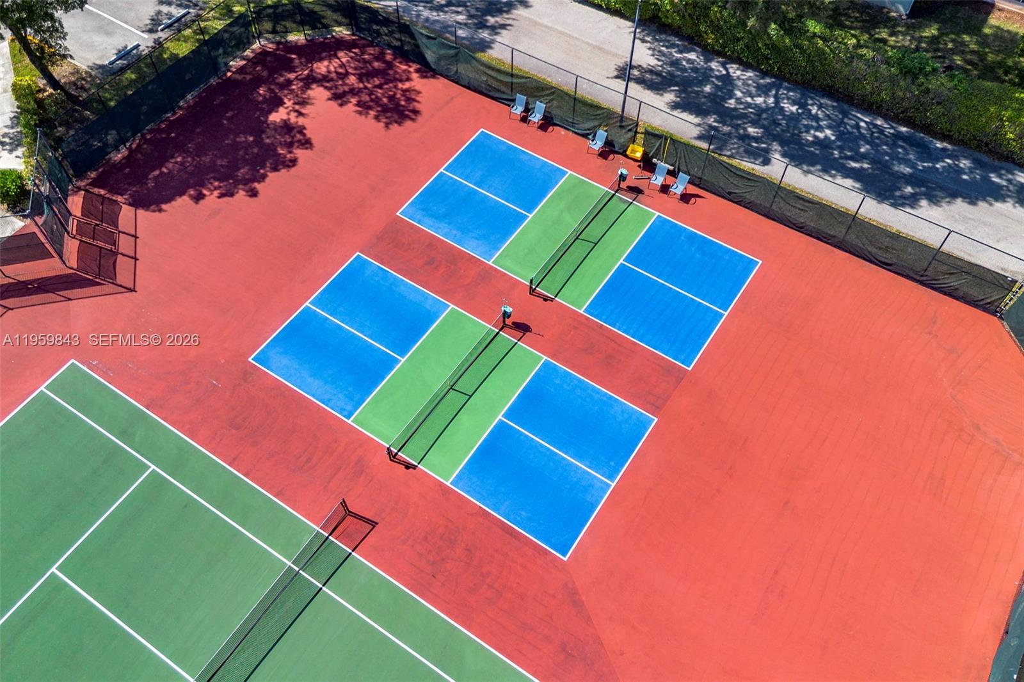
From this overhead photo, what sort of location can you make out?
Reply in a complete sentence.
The picture captures a sports ground.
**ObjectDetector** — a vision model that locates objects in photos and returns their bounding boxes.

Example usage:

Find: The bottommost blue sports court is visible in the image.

[249,253,657,560]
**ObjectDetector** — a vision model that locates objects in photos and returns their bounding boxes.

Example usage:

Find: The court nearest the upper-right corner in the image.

[397,129,761,369]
